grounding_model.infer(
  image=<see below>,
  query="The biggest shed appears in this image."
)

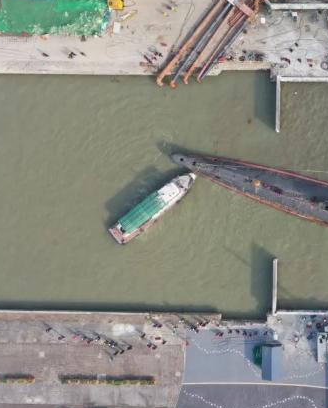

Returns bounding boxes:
[260,341,286,382]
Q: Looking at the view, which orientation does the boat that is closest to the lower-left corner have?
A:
at an angle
